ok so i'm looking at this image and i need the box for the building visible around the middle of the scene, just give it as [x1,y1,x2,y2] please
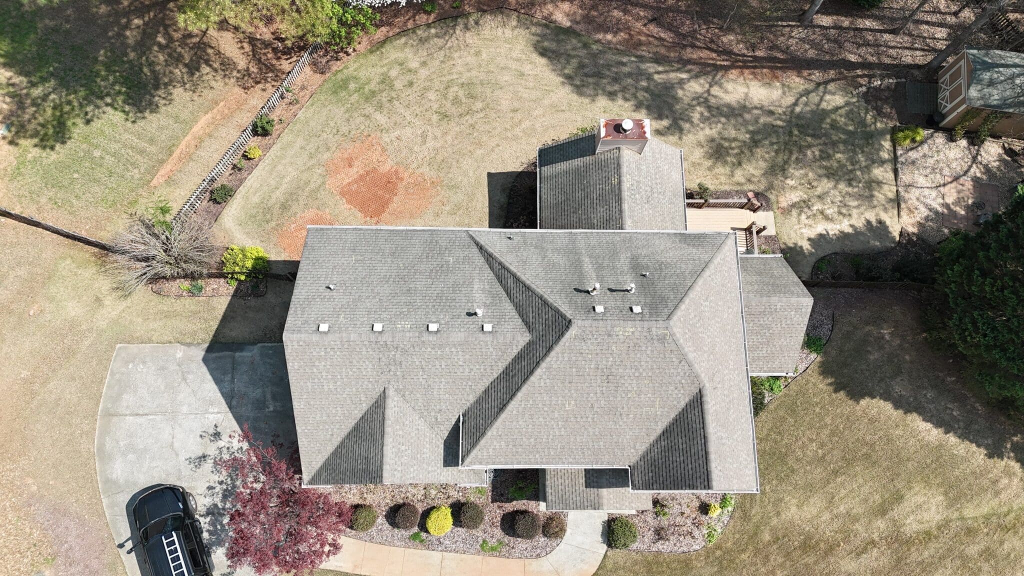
[281,117,813,514]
